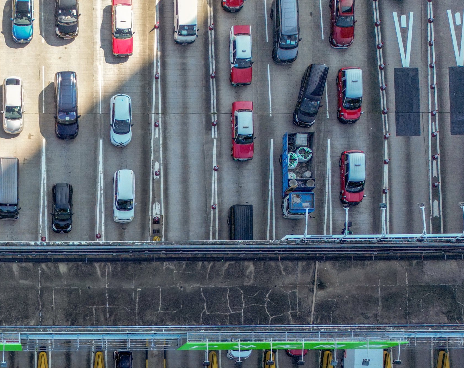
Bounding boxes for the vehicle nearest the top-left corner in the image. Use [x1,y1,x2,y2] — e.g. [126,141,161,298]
[11,0,35,47]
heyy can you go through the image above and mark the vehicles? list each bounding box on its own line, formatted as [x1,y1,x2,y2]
[54,0,80,42]
[327,0,357,51]
[109,96,134,146]
[111,1,135,59]
[292,64,330,127]
[0,159,21,219]
[50,181,75,235]
[219,0,245,15]
[228,201,254,241]
[112,171,136,222]
[228,27,254,87]
[281,133,317,218]
[230,103,257,161]
[0,78,25,134]
[54,75,80,137]
[11,0,35,47]
[339,150,366,205]
[272,0,301,64]
[172,0,197,47]
[113,350,133,368]
[336,68,363,124]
